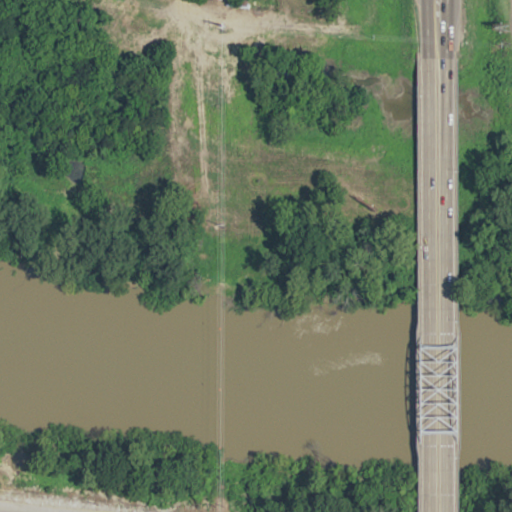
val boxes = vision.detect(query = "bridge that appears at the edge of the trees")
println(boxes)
[416,58,461,512]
